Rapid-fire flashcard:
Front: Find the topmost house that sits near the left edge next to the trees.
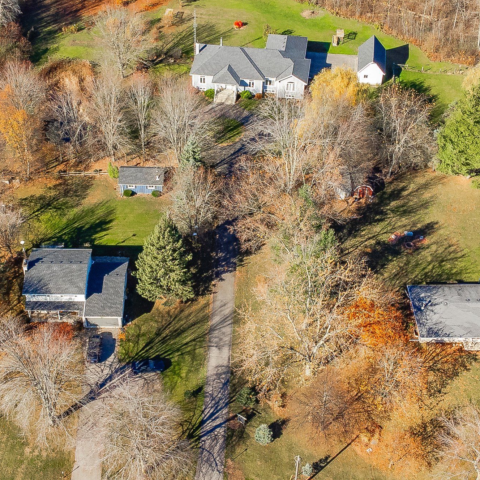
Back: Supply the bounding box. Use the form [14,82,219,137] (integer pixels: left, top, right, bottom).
[17,247,130,328]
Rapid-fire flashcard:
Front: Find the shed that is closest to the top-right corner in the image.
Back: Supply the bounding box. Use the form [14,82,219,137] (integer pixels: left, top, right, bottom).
[358,37,385,85]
